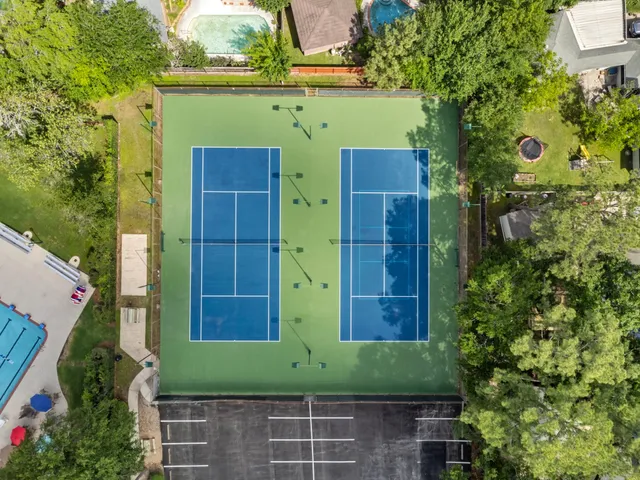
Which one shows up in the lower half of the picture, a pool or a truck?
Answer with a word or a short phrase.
pool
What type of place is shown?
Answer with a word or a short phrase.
sports ground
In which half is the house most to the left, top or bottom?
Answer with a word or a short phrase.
top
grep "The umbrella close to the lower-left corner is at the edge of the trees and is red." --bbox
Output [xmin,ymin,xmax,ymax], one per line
[6,425,32,446]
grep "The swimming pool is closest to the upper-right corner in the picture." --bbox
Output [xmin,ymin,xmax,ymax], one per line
[368,0,414,34]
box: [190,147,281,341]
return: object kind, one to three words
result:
tennis court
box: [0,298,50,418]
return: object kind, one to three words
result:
swimming pool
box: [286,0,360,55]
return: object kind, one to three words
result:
house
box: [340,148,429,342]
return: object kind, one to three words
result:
tennis court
